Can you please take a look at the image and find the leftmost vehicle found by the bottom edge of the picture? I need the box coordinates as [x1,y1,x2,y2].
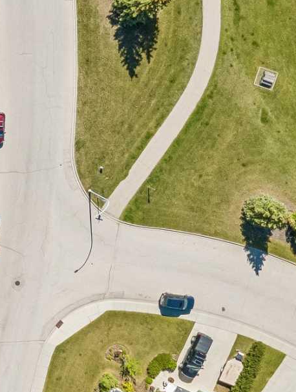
[179,330,210,376]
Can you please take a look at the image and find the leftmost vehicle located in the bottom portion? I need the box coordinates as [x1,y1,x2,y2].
[158,292,193,312]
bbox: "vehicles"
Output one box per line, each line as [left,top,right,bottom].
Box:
[0,112,6,146]
[179,330,210,376]
[158,292,193,312]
